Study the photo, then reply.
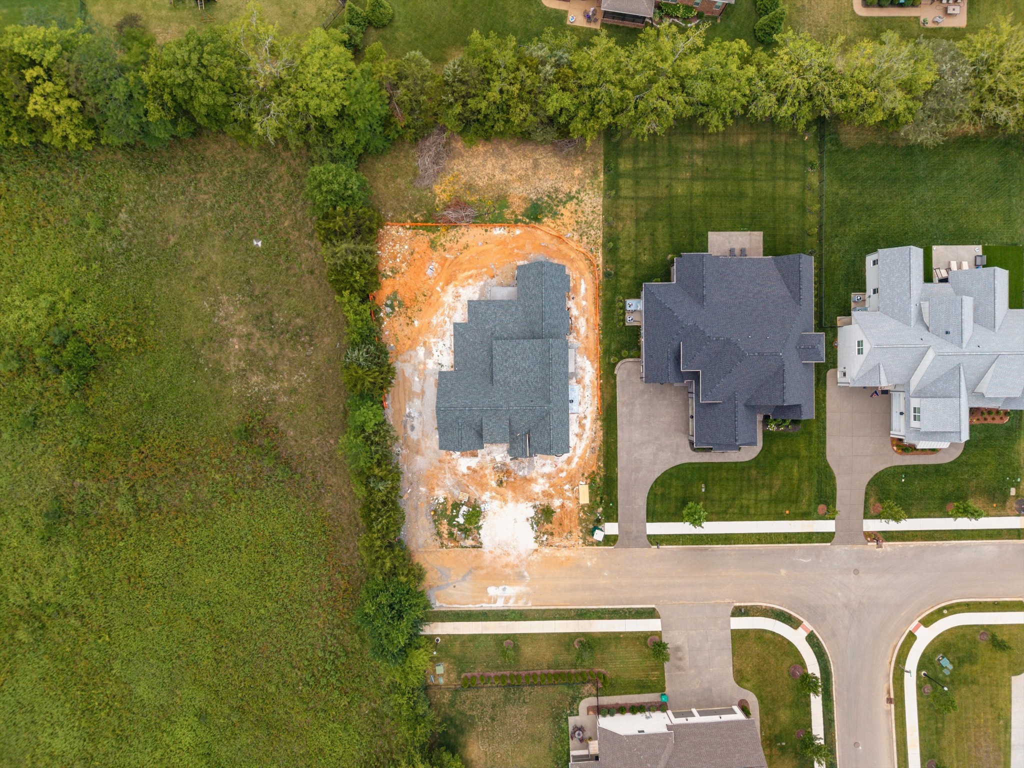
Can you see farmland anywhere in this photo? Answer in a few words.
No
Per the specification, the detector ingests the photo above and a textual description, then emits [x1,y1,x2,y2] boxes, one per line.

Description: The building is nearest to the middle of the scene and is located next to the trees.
[436,261,569,458]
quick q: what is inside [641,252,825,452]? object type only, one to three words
house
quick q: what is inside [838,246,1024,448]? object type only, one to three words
house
